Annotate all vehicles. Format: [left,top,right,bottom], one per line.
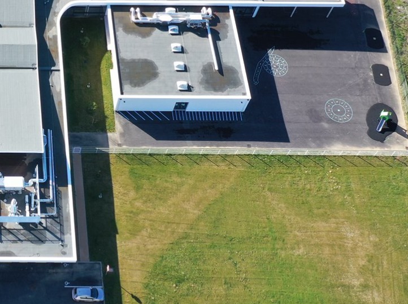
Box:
[72,286,103,304]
